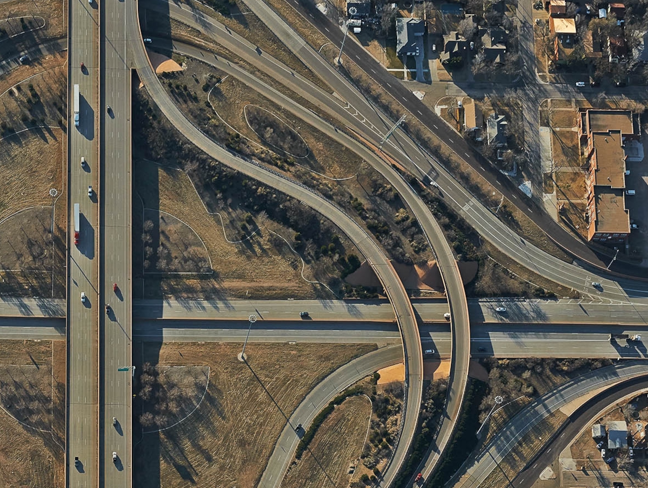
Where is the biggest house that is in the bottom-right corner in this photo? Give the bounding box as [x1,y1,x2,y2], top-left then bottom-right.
[606,421,630,454]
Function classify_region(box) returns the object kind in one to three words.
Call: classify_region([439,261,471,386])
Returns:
bridge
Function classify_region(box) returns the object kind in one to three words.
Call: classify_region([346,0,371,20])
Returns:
house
